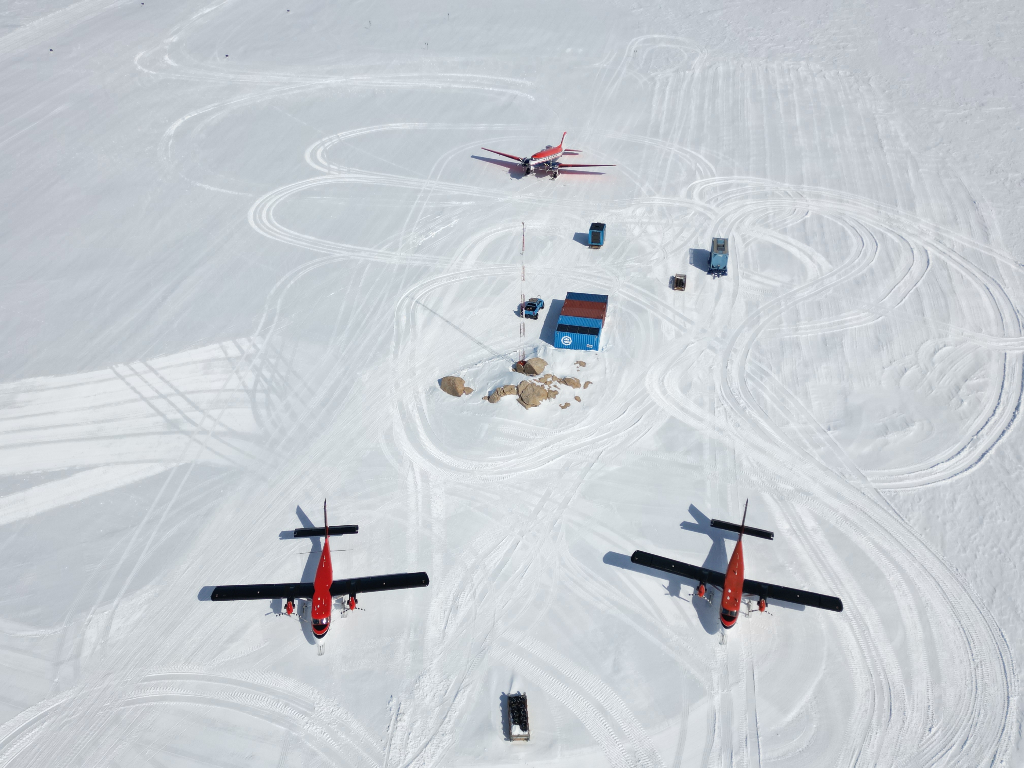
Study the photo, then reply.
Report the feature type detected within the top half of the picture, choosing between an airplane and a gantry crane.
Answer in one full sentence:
There is an airplane within the top half of the picture.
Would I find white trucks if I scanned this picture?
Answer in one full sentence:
No, this view has no white truck in it.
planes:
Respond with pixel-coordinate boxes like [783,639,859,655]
[482,132,617,180]
[631,500,842,644]
[212,501,429,655]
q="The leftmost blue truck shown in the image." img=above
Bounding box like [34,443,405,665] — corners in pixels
[519,294,545,320]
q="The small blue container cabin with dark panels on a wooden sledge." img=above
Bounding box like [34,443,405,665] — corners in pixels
[588,222,604,250]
